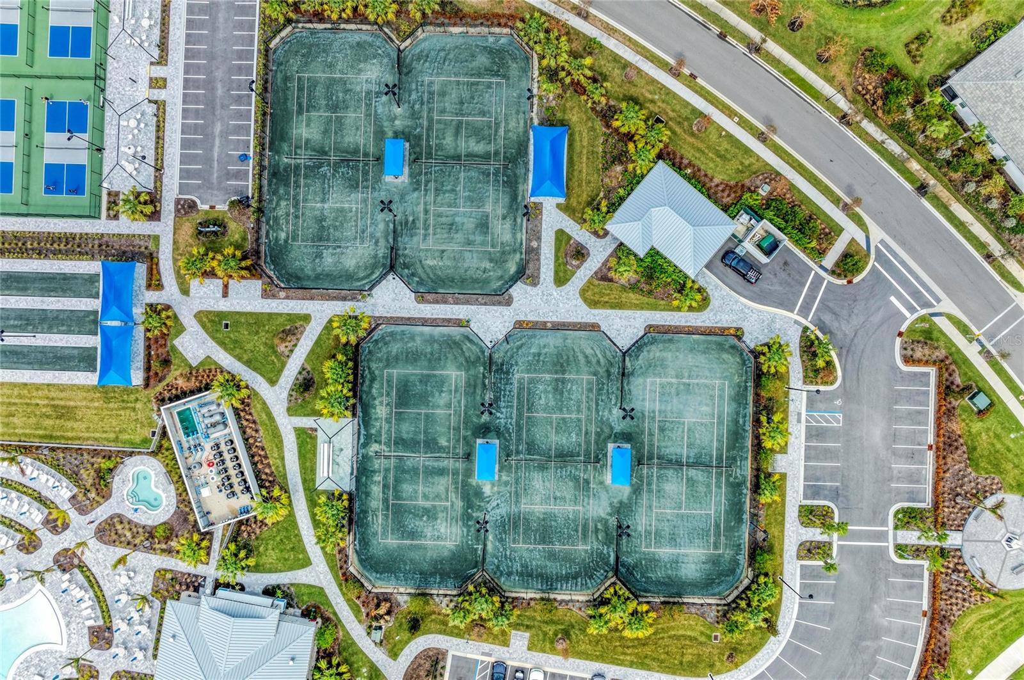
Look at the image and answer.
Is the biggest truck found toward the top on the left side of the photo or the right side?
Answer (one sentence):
It is on the right.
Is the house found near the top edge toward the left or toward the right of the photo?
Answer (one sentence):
The house found near the top edge is on the right side of the image.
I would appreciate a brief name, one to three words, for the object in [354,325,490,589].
tennis court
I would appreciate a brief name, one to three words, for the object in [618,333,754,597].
tennis court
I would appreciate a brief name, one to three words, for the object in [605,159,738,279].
building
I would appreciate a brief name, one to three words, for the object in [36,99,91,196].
sports court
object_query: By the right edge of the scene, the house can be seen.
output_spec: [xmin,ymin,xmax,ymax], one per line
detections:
[940,20,1024,194]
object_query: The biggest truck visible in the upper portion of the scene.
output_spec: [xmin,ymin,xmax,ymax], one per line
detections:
[721,247,763,285]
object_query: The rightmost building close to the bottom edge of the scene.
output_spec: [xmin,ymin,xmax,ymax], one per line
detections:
[152,584,317,680]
